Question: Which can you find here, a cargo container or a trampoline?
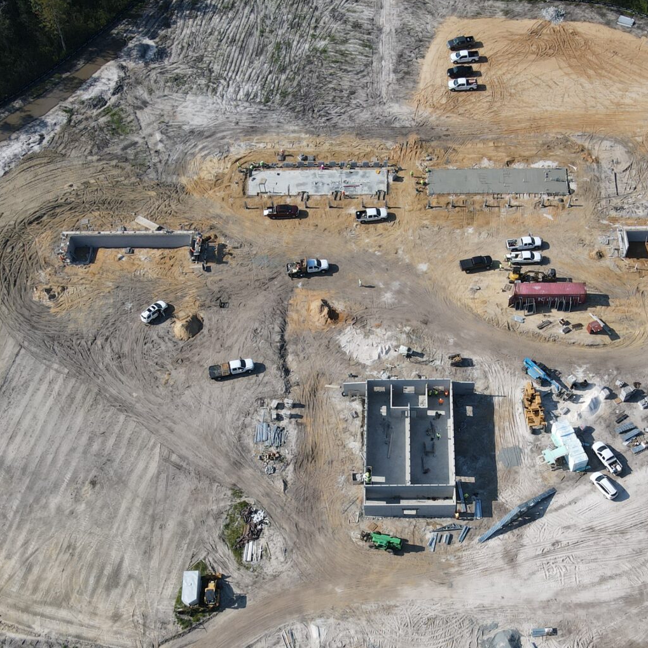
cargo container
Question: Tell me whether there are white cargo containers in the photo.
No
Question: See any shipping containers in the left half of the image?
No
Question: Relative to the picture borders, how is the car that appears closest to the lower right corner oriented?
at an angle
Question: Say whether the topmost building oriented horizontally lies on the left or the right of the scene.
left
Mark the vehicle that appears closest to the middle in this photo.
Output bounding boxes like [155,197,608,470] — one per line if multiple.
[286,260,331,280]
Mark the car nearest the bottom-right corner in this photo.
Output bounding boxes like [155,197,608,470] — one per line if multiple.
[588,473,621,502]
